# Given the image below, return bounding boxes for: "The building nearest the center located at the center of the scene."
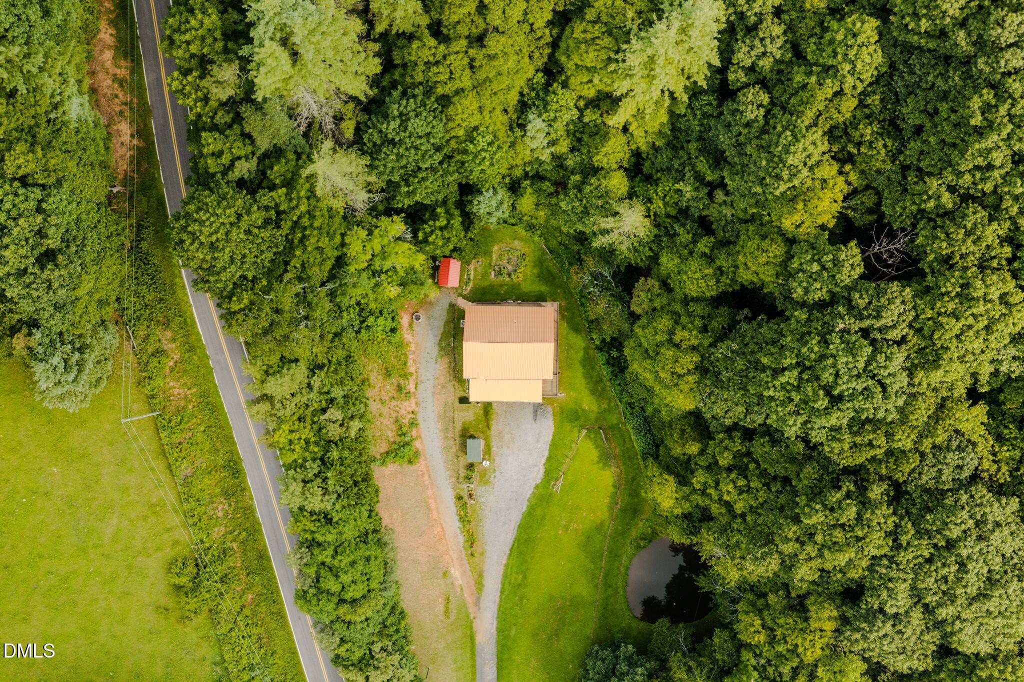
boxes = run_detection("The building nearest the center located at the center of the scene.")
[463,304,554,402]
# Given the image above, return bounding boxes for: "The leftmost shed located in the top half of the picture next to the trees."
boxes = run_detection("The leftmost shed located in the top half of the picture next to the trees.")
[437,257,461,288]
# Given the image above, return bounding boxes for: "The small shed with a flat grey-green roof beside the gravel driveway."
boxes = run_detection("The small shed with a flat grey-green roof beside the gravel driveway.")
[468,439,486,462]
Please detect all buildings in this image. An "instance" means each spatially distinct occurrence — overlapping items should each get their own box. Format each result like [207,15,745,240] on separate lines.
[468,439,486,462]
[437,257,461,288]
[463,304,554,402]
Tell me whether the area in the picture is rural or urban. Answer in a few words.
rural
